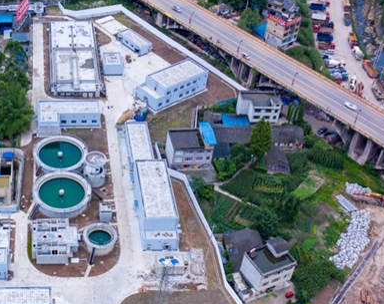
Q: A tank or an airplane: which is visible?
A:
tank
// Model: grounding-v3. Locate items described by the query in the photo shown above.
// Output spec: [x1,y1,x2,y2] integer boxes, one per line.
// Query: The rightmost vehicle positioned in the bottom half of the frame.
[354,189,384,204]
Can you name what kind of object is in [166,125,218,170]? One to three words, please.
house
